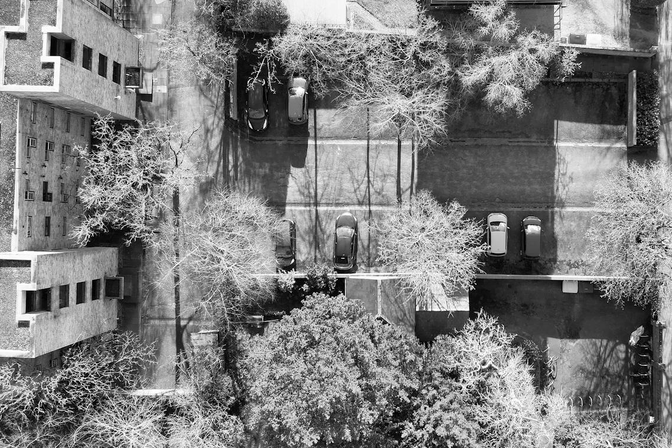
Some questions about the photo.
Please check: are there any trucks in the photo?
No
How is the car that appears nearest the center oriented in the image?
from top to bottom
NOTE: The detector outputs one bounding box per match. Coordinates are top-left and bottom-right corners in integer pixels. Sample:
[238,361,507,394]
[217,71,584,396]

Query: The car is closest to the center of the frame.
[334,215,358,268]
